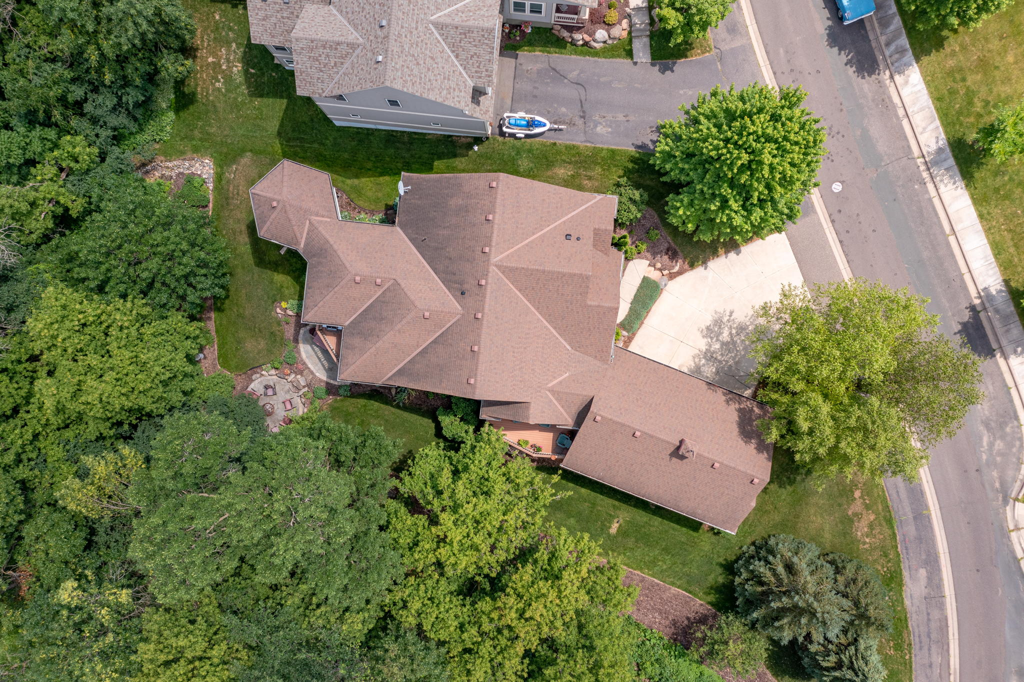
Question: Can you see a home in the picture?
Yes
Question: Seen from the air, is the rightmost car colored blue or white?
blue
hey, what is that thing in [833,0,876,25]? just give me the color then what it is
blue car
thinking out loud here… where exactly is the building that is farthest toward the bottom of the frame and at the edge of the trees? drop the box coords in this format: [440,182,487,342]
[247,157,774,536]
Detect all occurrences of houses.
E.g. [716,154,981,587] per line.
[247,157,774,536]
[246,0,597,137]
